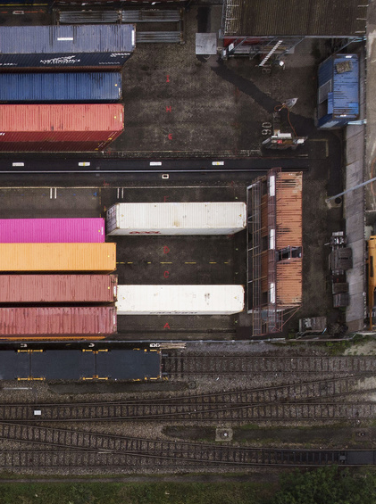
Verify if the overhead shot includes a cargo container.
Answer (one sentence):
Yes, a cargo container can be made out from above.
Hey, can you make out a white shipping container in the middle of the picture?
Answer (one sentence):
Yes, you'll find a white shipping container in the middle of the picture.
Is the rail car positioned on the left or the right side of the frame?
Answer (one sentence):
The rail car is on the left side of the image.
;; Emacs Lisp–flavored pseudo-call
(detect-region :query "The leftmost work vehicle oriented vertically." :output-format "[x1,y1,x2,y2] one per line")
[325,223,368,311]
